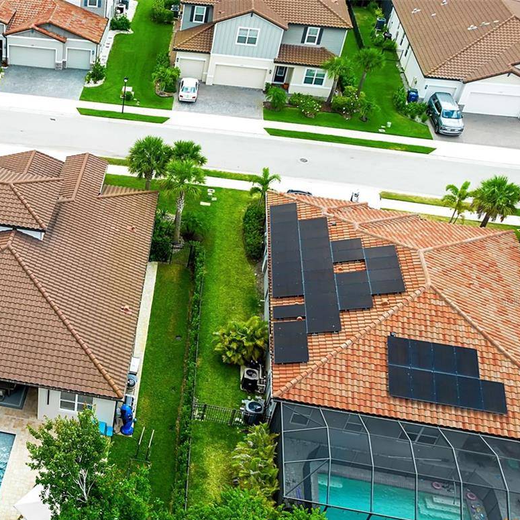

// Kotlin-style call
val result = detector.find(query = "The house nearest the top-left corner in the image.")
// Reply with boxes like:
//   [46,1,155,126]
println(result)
[0,0,117,69]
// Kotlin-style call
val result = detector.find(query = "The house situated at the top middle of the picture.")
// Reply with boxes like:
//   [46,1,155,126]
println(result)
[173,0,353,96]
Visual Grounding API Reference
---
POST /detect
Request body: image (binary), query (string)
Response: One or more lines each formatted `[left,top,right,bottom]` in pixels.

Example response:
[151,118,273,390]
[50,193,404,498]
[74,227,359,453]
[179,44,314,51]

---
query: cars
[172,75,199,102]
[429,96,477,136]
